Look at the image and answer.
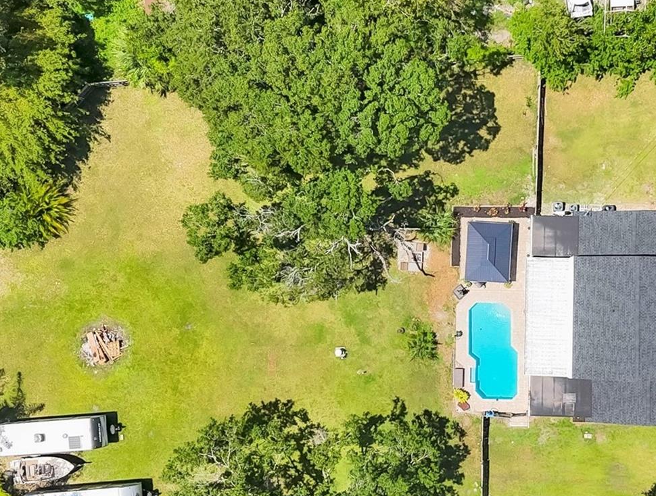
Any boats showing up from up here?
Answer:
Yes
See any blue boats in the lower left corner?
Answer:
No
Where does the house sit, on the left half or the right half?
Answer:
right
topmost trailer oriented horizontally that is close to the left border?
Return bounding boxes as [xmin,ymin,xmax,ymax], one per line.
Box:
[0,414,129,456]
